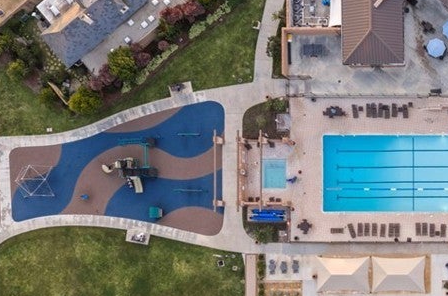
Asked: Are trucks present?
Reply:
No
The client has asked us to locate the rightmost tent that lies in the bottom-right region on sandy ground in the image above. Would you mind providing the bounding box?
[372,256,428,293]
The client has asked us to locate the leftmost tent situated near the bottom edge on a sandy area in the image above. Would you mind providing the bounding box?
[317,256,372,293]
